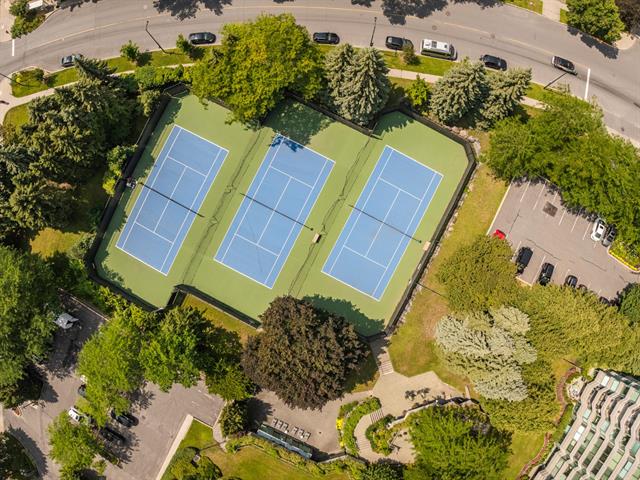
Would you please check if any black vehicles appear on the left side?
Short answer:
Yes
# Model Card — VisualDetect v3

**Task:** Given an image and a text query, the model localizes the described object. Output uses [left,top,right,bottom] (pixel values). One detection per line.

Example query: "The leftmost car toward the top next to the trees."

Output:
[58,52,88,69]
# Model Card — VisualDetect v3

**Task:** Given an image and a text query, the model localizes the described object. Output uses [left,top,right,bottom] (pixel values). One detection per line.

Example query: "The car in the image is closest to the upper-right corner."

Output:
[549,55,579,75]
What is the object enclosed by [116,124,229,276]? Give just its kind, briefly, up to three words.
tennis court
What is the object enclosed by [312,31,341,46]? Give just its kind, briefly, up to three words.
car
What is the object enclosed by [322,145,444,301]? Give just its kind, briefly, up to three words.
tennis court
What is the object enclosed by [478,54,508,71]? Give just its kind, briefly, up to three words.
car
